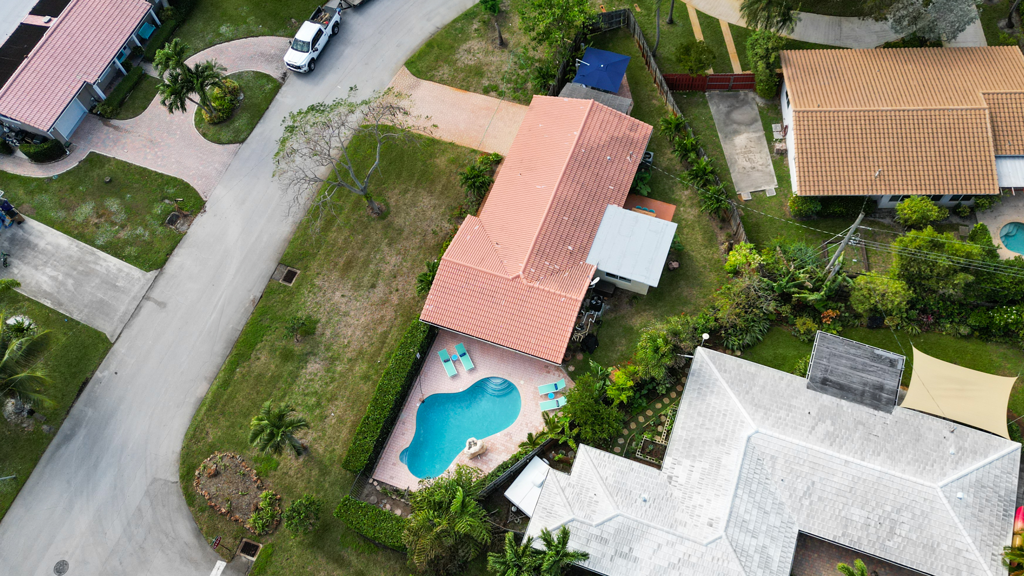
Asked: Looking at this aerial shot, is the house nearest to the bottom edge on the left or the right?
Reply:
right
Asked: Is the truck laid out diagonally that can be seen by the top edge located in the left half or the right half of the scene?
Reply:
left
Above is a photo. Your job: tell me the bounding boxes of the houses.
[418,93,677,367]
[0,0,161,142]
[519,331,1020,576]
[780,45,1024,207]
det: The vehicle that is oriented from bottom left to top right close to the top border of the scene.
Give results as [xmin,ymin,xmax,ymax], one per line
[281,6,342,78]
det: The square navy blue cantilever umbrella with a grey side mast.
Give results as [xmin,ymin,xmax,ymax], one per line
[572,47,630,93]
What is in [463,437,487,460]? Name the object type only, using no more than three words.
fountain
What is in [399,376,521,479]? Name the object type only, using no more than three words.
swimming pool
